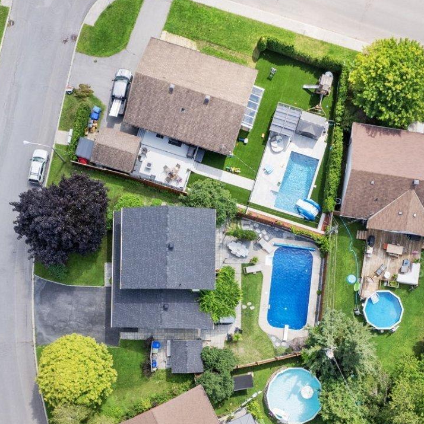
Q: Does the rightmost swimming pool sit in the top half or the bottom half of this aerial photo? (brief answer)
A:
bottom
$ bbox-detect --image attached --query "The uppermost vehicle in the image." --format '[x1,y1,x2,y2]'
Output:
[108,70,131,117]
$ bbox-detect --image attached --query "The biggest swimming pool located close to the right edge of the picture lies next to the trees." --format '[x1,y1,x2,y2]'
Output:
[362,290,403,331]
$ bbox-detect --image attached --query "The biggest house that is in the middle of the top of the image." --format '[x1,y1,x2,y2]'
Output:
[124,38,258,155]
